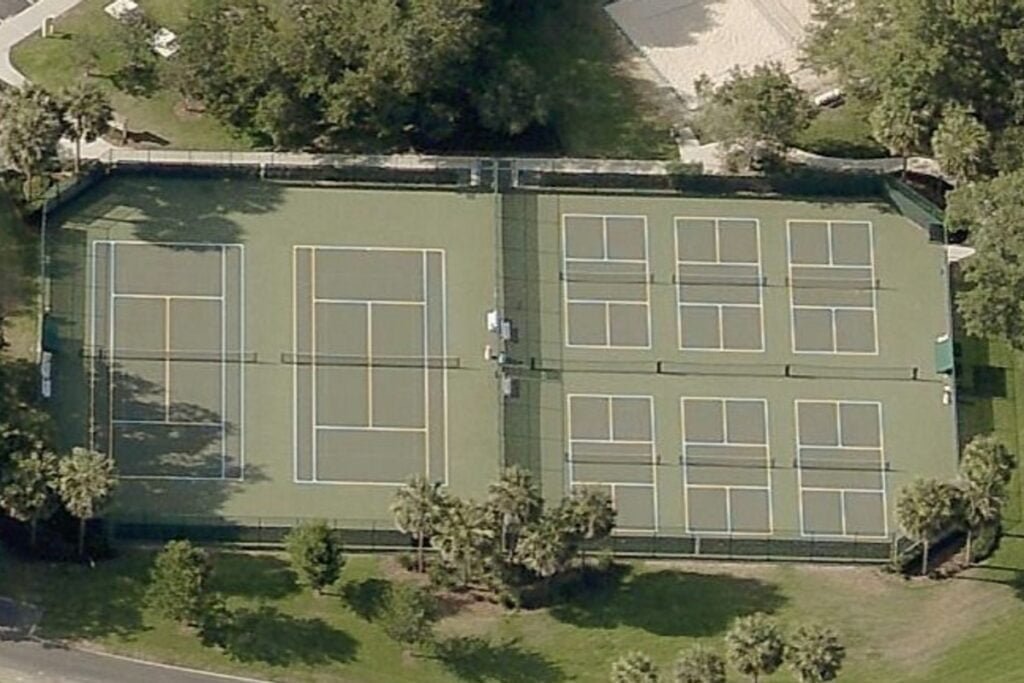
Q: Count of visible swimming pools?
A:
0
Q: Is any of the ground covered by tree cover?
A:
Yes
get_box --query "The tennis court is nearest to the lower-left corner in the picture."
[90,241,243,480]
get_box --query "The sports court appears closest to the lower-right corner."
[795,400,887,537]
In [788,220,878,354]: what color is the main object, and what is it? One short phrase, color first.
gray sports court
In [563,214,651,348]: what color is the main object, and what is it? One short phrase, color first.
gray sports court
